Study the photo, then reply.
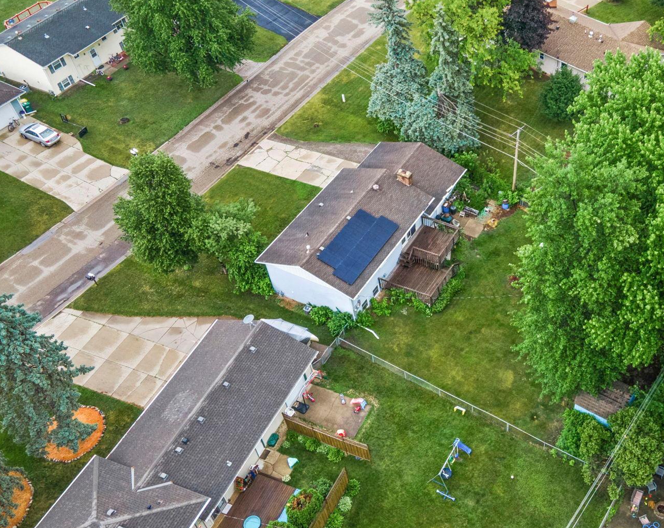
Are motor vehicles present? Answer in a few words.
Yes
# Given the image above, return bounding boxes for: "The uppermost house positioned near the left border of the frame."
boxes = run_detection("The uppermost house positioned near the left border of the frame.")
[0,0,121,94]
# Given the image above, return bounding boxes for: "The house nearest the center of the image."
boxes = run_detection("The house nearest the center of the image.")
[253,142,469,319]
